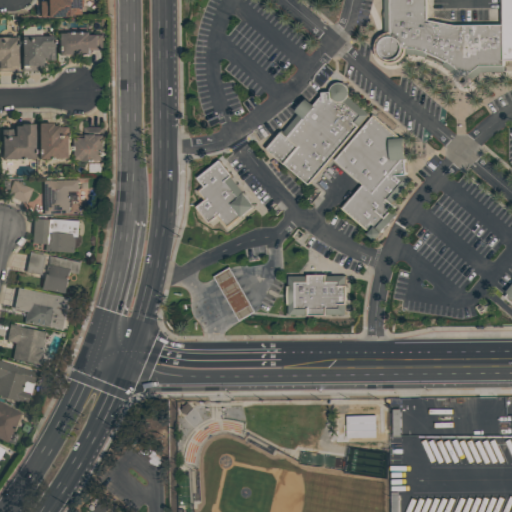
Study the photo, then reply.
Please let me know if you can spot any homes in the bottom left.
Yes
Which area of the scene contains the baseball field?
bottom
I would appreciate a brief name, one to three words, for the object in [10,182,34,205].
house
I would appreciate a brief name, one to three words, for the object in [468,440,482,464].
vehicle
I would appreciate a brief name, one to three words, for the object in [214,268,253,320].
building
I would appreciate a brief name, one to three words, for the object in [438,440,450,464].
vehicle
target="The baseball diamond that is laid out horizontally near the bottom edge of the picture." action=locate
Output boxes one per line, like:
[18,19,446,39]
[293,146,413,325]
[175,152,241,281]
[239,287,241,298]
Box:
[196,430,388,512]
